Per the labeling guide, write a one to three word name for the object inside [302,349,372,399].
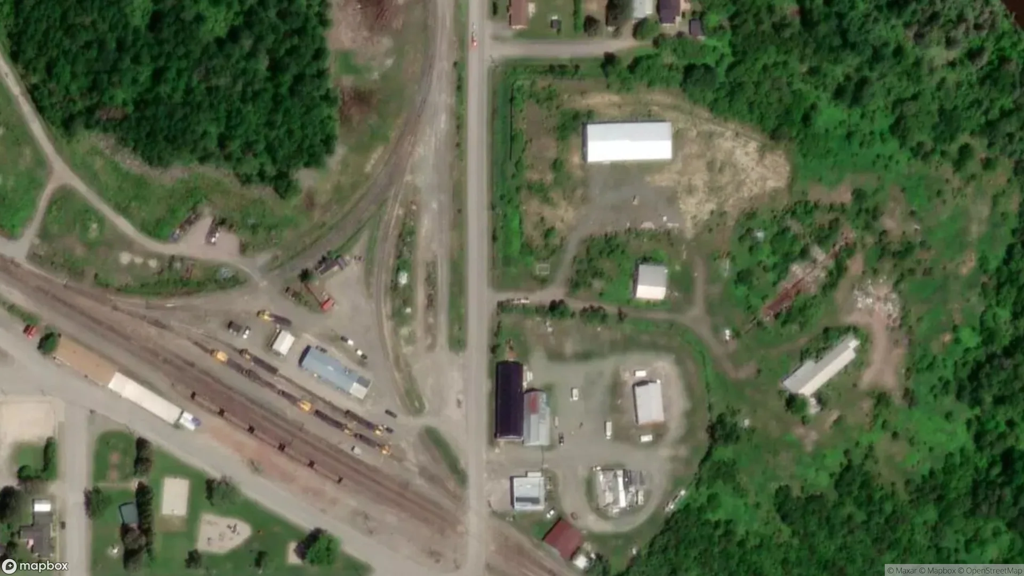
building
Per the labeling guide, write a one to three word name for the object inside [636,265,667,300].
shed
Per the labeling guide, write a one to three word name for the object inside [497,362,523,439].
barn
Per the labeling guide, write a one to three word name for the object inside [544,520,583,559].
barn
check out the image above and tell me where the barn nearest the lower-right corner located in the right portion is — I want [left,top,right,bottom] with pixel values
[783,337,860,396]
